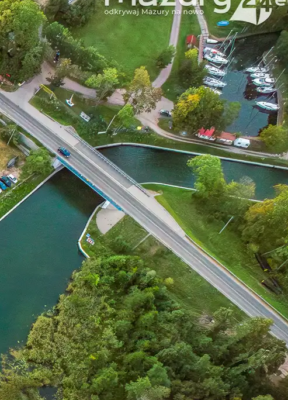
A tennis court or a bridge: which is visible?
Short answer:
bridge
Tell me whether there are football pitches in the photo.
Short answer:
No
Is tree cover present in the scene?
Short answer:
Yes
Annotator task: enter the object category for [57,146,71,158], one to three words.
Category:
vehicle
